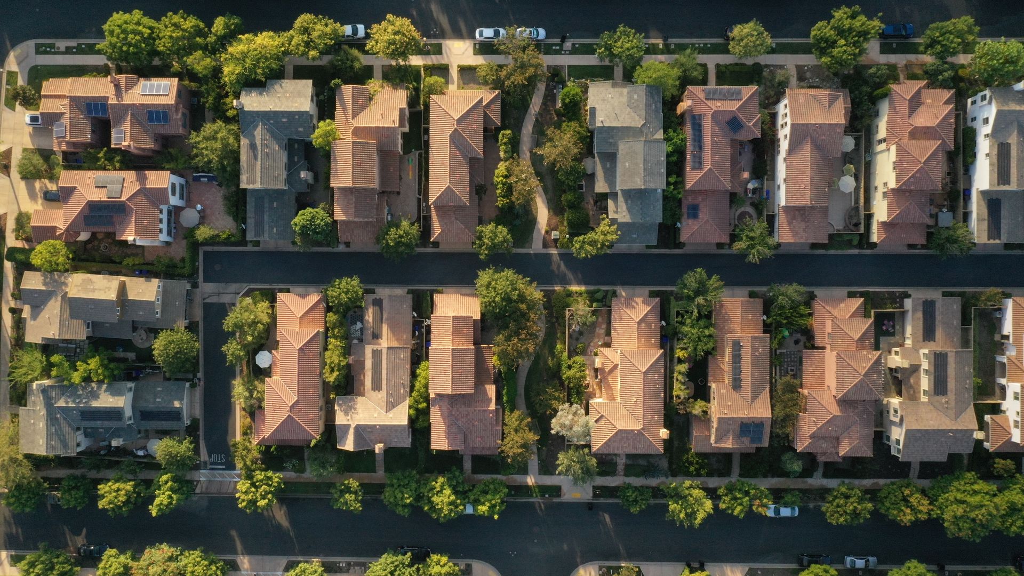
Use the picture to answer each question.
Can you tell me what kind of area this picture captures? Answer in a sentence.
The picture captures a residential area.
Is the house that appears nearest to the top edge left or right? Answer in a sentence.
You can find the house that appears nearest to the top edge on the left side of the picture.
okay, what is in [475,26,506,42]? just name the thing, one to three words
car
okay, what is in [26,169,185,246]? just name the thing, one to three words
house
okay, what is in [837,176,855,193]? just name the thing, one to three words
umbrella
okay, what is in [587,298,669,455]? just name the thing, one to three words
house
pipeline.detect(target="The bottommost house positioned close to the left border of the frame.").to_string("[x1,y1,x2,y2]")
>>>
[19,374,195,457]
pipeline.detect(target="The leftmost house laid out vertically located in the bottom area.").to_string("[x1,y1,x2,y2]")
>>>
[254,293,327,446]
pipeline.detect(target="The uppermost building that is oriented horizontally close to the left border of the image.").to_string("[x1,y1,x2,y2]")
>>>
[34,73,196,153]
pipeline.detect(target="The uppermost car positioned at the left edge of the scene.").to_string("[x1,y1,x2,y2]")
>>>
[24,112,38,128]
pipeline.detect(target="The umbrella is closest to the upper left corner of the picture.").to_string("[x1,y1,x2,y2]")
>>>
[181,207,201,227]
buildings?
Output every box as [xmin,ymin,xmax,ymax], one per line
[26,169,185,246]
[962,81,1024,244]
[234,80,321,240]
[34,73,196,153]
[691,298,776,453]
[871,80,956,244]
[428,294,502,455]
[16,271,196,342]
[882,298,985,458]
[254,293,327,446]
[429,89,501,243]
[774,87,853,244]
[333,294,414,453]
[668,85,762,244]
[19,374,195,457]
[587,81,667,244]
[793,298,883,462]
[330,82,411,243]
[587,298,669,455]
